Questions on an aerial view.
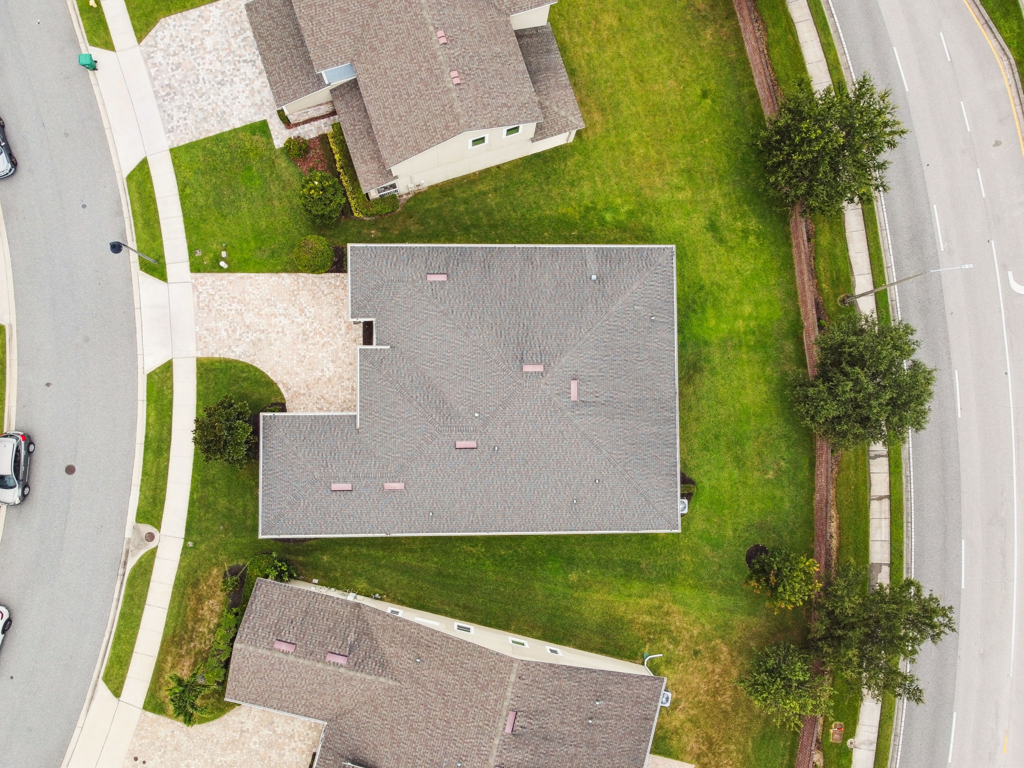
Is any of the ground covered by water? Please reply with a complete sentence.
No, there's no water in this view.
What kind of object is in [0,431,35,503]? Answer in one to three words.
car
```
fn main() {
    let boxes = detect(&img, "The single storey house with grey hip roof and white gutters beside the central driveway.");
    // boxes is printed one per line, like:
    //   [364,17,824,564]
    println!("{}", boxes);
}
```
[256,242,684,540]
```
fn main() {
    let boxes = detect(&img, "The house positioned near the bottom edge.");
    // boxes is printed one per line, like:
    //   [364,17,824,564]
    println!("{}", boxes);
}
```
[225,578,670,768]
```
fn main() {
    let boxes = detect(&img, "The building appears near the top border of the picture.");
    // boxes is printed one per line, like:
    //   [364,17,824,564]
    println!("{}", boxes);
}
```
[244,0,585,196]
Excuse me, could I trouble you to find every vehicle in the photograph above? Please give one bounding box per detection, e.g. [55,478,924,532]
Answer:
[0,118,18,177]
[0,431,35,503]
[0,609,12,651]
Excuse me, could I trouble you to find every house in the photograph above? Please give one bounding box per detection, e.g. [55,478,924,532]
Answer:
[225,578,670,768]
[256,242,684,540]
[244,0,585,196]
